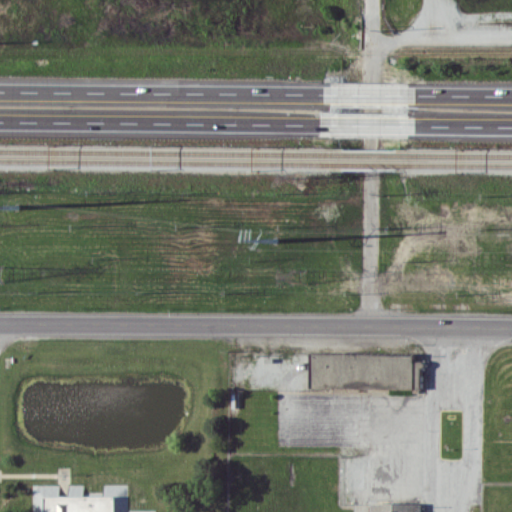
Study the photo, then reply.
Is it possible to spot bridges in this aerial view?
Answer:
Yes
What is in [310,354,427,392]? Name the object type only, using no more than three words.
building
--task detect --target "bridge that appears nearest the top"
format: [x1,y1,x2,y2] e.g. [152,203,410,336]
[319,84,416,139]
